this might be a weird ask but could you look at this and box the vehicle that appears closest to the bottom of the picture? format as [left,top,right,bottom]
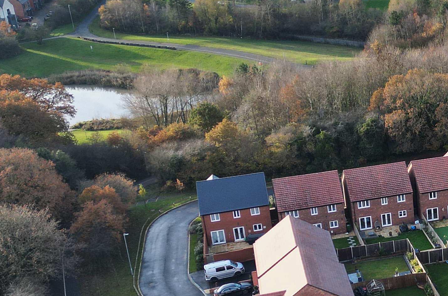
[212,280,254,296]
